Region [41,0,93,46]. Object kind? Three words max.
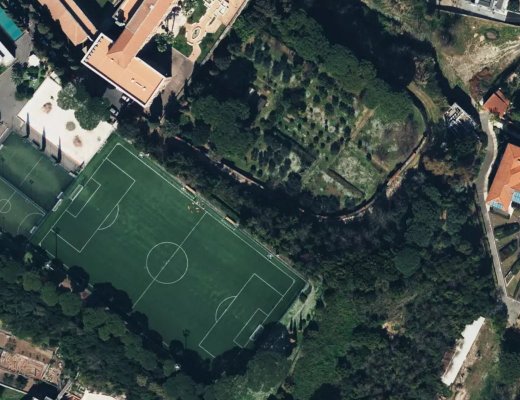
house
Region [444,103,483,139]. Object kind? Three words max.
building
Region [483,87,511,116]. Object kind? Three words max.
house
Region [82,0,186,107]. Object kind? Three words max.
building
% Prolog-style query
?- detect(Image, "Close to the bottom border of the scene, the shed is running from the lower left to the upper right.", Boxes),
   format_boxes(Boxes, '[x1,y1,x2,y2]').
[438,316,486,386]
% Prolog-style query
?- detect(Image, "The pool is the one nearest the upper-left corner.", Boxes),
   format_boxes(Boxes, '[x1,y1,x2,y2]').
[0,7,23,41]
